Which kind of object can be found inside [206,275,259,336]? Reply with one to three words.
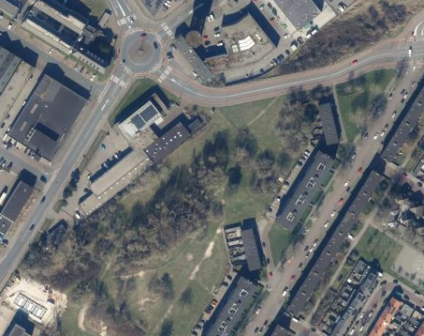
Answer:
building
